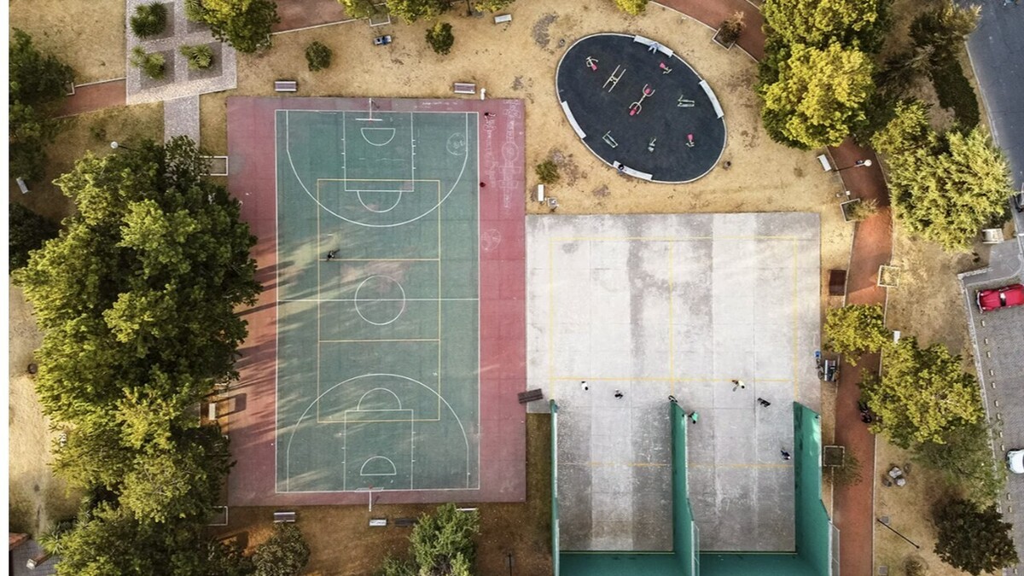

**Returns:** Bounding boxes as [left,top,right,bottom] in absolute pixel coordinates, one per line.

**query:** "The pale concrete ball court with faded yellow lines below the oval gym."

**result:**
[527,214,821,553]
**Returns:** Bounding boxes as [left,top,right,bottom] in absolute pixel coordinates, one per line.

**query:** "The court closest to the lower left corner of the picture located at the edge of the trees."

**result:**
[227,97,525,506]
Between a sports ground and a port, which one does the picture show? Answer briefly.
sports ground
